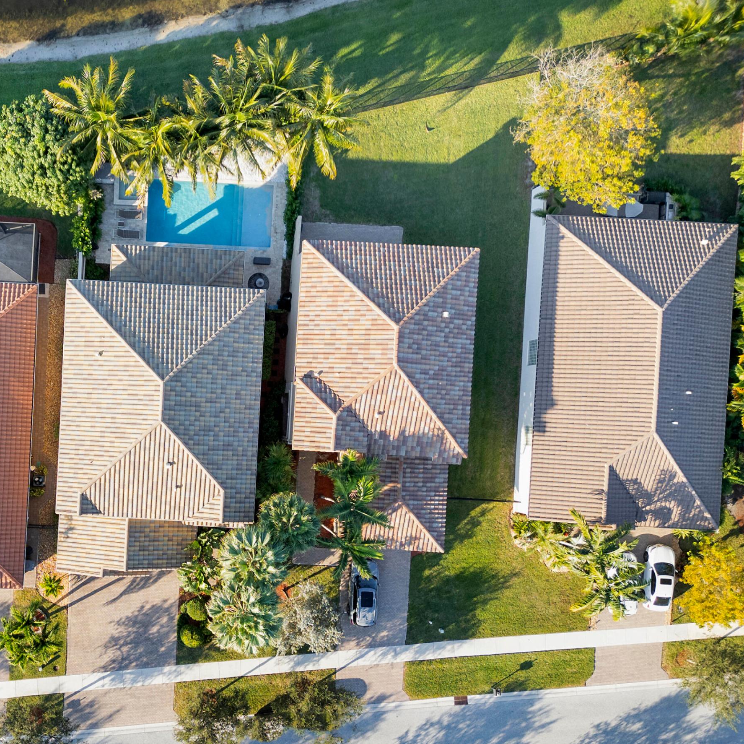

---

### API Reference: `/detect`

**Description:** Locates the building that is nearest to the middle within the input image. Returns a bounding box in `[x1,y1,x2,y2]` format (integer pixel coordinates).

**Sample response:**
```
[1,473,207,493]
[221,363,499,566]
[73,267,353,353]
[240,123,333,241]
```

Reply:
[283,239,482,554]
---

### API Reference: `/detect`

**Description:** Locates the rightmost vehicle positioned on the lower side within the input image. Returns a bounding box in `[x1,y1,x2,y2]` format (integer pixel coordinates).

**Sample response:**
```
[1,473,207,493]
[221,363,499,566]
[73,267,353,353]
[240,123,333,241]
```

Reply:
[639,541,677,612]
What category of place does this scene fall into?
residential area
